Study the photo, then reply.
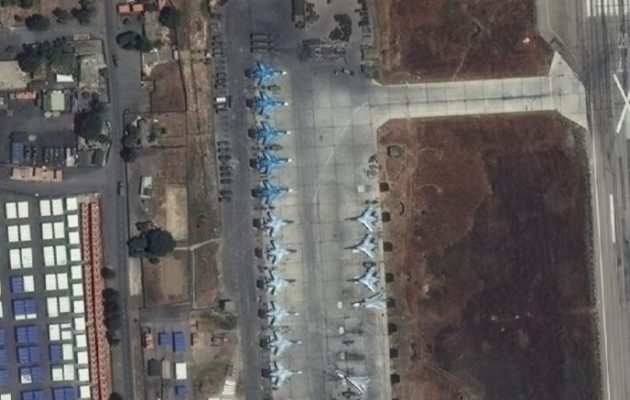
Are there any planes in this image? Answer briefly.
Yes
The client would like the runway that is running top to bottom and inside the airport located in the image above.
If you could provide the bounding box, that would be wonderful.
[586,0,630,400]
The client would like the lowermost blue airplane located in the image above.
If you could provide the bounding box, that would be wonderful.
[257,179,291,201]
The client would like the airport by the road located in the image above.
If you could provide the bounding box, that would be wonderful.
[213,0,630,400]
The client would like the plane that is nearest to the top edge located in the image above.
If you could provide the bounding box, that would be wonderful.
[253,60,287,83]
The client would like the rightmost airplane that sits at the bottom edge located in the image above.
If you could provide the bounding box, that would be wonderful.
[337,373,370,391]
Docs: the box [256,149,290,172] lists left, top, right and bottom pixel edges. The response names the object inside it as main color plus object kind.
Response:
blue airplane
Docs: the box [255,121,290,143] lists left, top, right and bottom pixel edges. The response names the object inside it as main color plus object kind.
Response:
blue airplane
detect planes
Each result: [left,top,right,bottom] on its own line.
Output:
[268,330,300,355]
[348,268,381,293]
[337,373,370,391]
[256,149,290,172]
[257,179,291,201]
[255,121,290,143]
[347,208,380,233]
[261,210,294,234]
[264,239,297,264]
[268,359,301,385]
[352,294,385,310]
[254,92,288,114]
[265,302,298,327]
[348,238,380,263]
[253,60,287,83]
[263,268,296,293]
